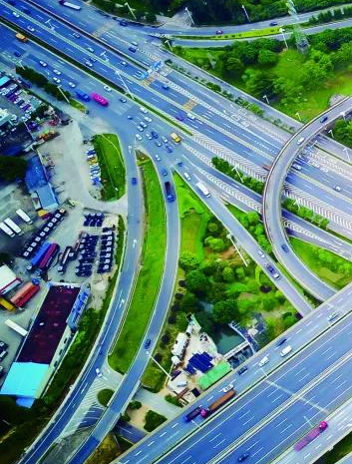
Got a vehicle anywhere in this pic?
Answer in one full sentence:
Yes, I can see a vehicle in this picture.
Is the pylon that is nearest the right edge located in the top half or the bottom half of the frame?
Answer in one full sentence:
The pylon that is nearest the right edge sits in the top half of the picture.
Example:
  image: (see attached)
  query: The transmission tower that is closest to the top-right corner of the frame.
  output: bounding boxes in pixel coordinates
[281,0,311,56]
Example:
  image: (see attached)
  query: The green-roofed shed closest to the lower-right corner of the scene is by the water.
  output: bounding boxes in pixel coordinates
[199,361,233,392]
